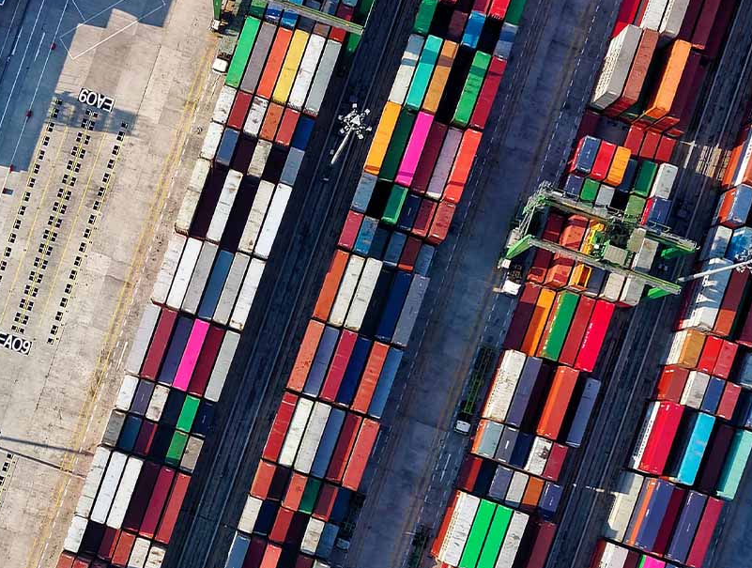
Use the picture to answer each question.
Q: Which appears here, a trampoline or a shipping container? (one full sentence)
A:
It is a shipping container that can be seen here.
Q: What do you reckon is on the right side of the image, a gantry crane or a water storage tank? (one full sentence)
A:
Visible on the right side of the image is a gantry crane.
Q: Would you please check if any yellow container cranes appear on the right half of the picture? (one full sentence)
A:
No, I see no yellow container crane on the right half of the picture.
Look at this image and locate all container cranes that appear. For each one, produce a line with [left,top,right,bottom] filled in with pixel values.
[254,0,380,73]
[494,181,710,308]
